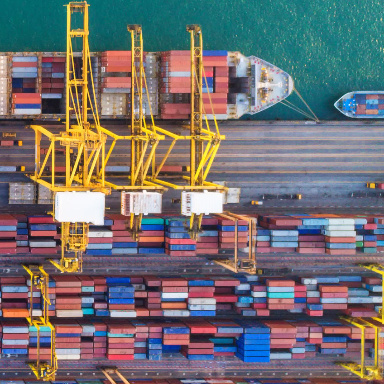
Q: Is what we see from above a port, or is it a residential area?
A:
port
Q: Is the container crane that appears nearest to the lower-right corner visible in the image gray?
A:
No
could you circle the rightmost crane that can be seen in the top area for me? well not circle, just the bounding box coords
[143,23,227,243]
